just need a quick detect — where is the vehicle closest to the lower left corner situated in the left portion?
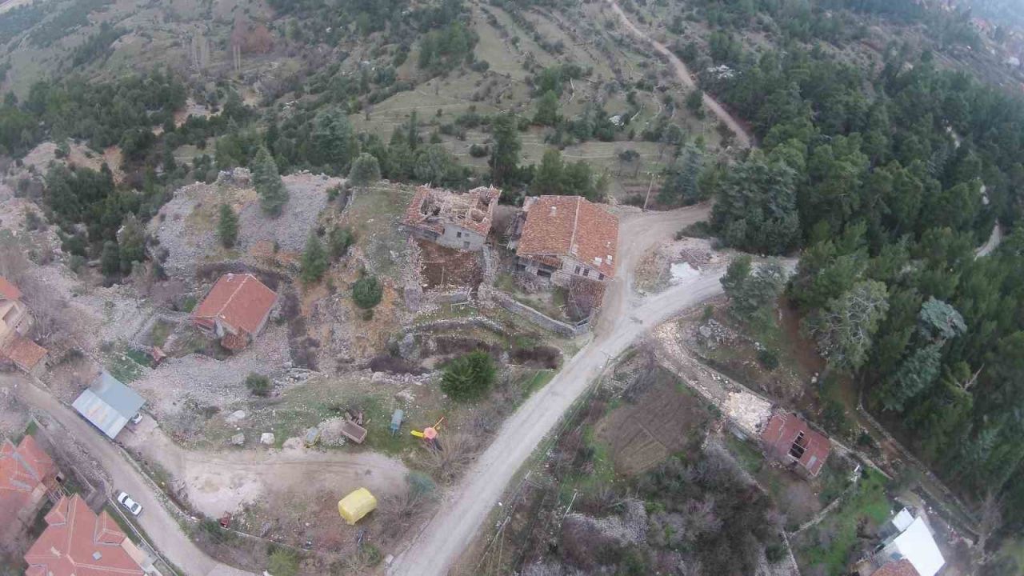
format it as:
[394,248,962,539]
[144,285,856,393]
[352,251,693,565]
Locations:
[115,492,144,517]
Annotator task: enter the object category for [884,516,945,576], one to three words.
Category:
building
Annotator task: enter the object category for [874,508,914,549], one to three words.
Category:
shed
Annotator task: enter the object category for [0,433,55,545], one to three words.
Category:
house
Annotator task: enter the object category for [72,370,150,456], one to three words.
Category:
shed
